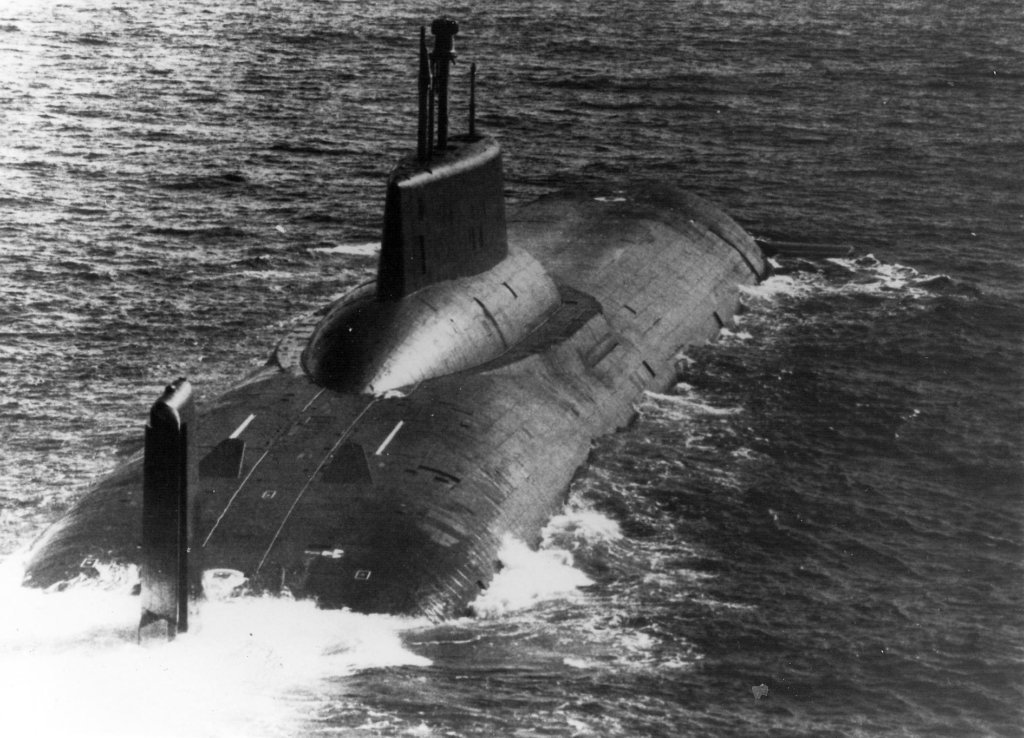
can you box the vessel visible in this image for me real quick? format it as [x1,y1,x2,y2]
[10,19,770,632]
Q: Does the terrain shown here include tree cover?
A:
No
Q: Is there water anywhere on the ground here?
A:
Yes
